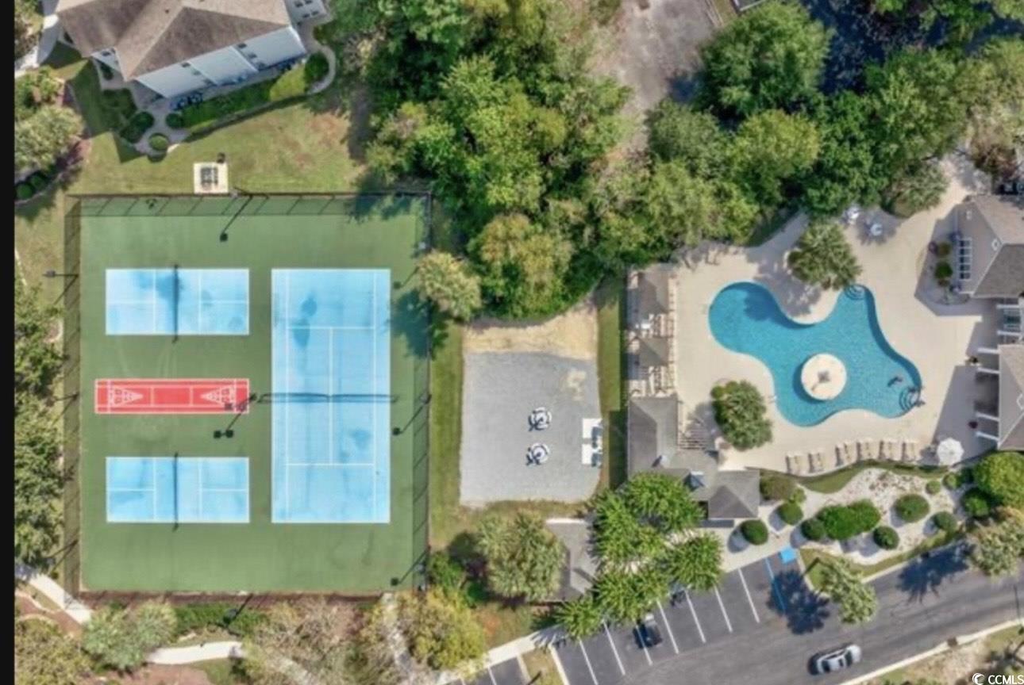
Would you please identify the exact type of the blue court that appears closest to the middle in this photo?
tennis court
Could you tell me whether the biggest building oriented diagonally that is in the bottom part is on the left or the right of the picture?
right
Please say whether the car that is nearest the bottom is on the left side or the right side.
right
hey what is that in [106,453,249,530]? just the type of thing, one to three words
sports court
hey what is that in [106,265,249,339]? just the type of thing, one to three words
sports court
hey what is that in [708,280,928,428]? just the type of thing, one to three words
swimming pool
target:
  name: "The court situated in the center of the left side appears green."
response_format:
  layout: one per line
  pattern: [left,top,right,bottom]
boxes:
[79,195,429,595]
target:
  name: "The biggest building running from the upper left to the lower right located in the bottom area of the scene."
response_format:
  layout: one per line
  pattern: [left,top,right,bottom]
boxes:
[626,397,759,519]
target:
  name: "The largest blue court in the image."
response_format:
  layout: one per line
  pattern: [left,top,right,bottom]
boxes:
[257,269,399,523]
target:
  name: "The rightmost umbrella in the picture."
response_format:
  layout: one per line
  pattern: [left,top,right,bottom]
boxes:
[934,439,963,465]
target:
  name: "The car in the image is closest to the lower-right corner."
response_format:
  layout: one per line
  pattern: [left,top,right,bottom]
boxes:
[810,641,861,675]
